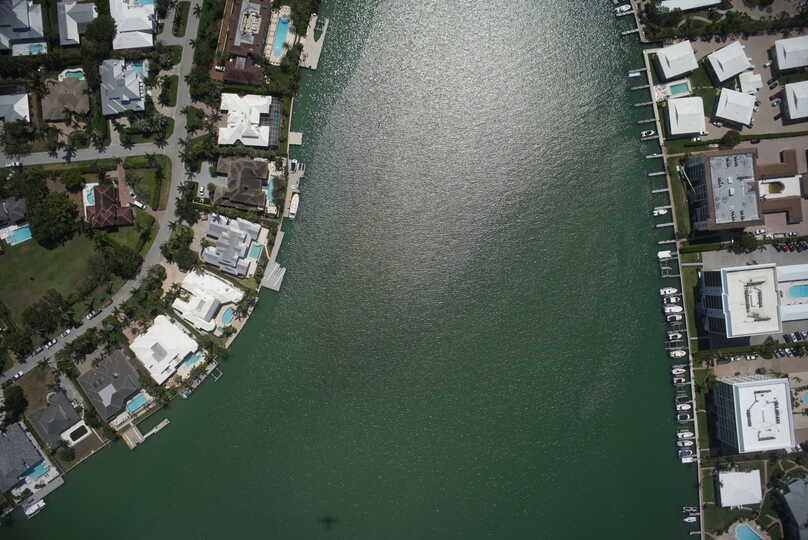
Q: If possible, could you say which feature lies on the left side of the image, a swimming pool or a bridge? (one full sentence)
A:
You can see a swimming pool on the left side of the image.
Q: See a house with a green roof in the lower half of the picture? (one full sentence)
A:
No, the scene shows no house with a green roof in the lower half of the picture.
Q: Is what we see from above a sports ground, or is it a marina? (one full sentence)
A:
The picture captures a marina.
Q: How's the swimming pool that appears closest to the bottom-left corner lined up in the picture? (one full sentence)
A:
The swimming pool that appears closest to the bottom-left corner is laid out at an angle.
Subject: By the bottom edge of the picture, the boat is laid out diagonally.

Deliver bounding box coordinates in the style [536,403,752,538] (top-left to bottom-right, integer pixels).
[25,499,46,514]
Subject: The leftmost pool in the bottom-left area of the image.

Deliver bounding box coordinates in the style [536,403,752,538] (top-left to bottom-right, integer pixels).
[26,461,50,482]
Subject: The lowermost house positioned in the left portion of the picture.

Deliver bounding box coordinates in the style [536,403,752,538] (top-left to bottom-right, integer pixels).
[0,422,47,491]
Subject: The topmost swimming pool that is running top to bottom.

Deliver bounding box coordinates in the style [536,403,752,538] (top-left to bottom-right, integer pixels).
[271,14,290,57]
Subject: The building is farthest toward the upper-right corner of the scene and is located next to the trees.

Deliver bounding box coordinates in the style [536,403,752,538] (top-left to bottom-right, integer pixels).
[769,34,808,72]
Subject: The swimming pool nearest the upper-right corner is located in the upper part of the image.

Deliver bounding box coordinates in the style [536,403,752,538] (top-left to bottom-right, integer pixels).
[670,81,690,96]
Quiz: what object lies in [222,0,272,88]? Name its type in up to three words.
house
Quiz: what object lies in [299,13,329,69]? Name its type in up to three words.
pier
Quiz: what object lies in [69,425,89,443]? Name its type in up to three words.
swimming pool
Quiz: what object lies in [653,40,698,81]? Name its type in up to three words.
building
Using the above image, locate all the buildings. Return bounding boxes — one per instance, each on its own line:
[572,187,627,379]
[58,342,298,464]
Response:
[43,77,90,121]
[778,81,808,120]
[172,272,245,332]
[222,0,272,88]
[0,94,32,121]
[214,158,268,212]
[200,212,260,276]
[32,393,82,448]
[58,1,99,47]
[656,0,721,14]
[714,373,796,454]
[653,40,698,81]
[703,41,753,84]
[101,60,147,115]
[664,97,705,136]
[0,197,28,222]
[130,315,200,384]
[710,88,756,126]
[769,34,808,72]
[713,466,762,507]
[218,93,271,146]
[0,0,45,49]
[703,263,784,339]
[0,422,47,491]
[78,351,143,419]
[110,0,155,51]
[689,147,767,231]
[92,184,135,227]
[775,467,808,540]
